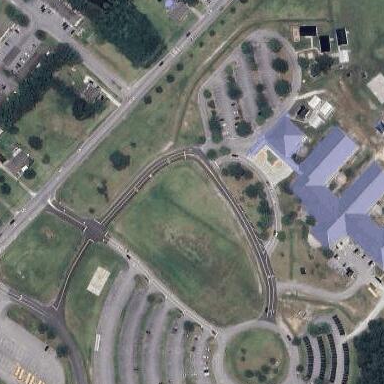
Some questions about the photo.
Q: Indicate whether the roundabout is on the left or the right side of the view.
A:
right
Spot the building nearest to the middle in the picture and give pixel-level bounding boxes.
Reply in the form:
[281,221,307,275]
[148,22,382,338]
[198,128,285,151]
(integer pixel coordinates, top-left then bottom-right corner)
[261,108,309,159]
